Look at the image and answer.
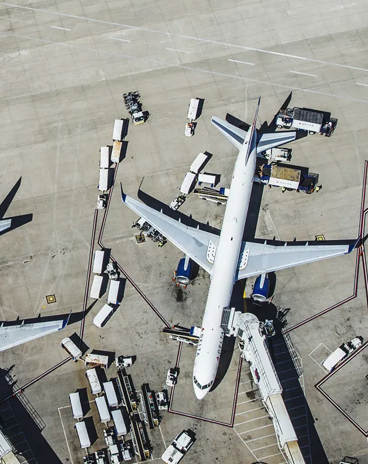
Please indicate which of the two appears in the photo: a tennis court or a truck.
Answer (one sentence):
The one in the frame is a truck.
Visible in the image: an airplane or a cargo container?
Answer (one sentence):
Of the two, only an airplane appears.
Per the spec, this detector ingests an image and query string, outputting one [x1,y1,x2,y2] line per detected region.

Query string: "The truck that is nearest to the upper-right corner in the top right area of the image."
[280,109,336,138]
